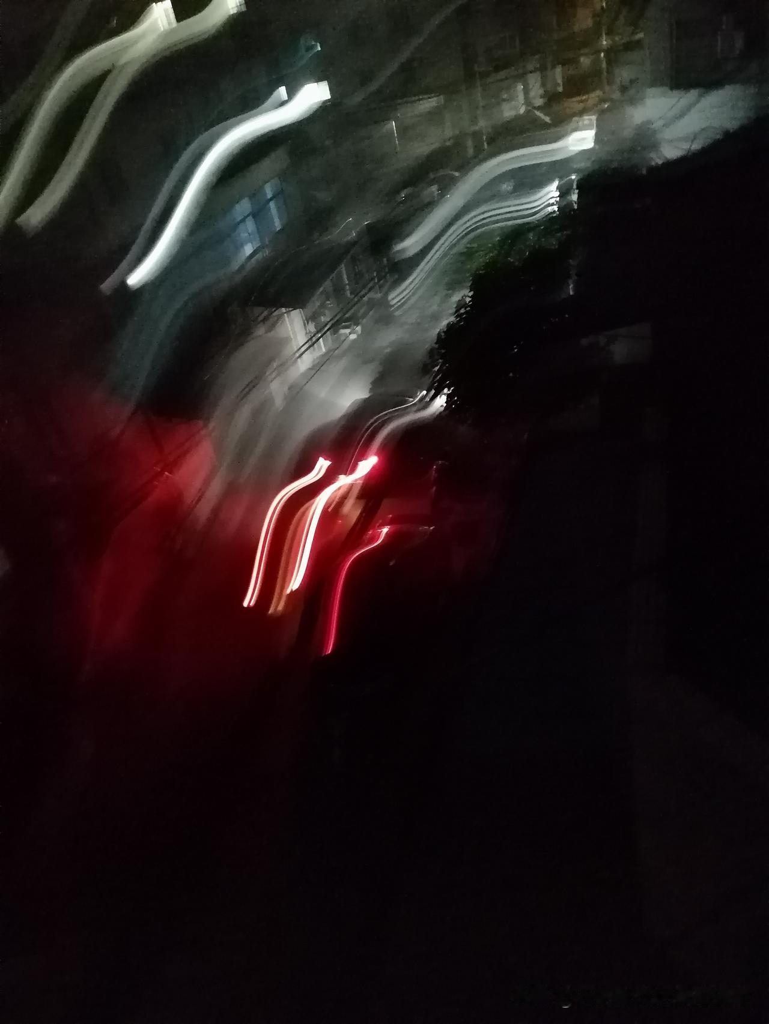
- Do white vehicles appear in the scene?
No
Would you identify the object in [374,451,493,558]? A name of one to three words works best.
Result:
car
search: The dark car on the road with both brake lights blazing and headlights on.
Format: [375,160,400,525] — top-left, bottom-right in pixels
[318,403,422,485]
